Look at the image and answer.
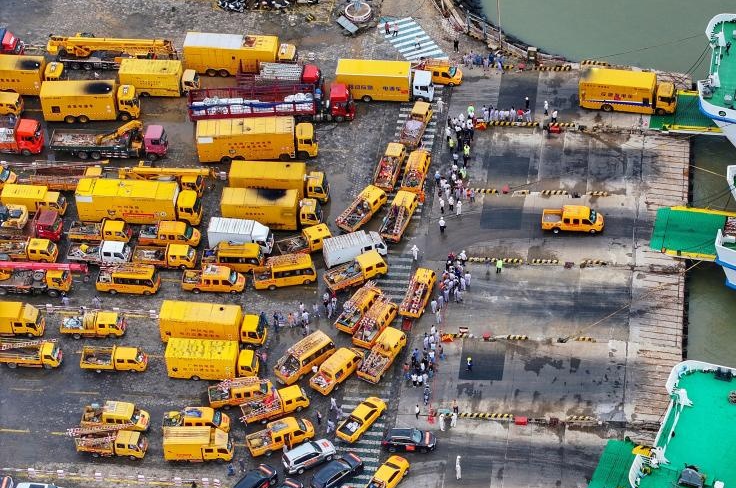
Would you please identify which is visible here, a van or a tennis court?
van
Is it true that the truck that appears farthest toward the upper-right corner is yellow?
Yes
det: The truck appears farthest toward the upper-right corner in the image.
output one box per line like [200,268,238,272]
[579,67,680,114]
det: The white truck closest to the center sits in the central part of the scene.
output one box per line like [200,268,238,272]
[320,224,391,268]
